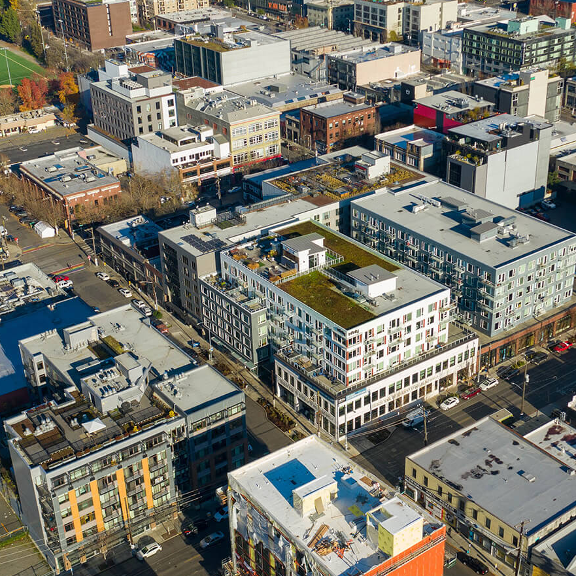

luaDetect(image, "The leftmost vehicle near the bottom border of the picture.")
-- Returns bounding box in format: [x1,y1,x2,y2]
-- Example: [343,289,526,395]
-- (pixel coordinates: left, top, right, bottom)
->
[136,543,162,560]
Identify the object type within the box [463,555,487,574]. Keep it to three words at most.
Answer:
car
